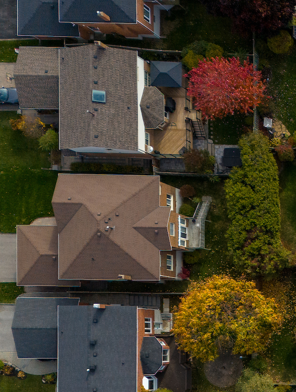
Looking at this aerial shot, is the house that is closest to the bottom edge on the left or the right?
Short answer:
left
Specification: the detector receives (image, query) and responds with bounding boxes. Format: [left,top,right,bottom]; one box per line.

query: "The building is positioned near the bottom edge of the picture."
[6,297,170,392]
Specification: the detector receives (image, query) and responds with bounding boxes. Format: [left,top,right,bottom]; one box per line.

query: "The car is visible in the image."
[0,87,15,104]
